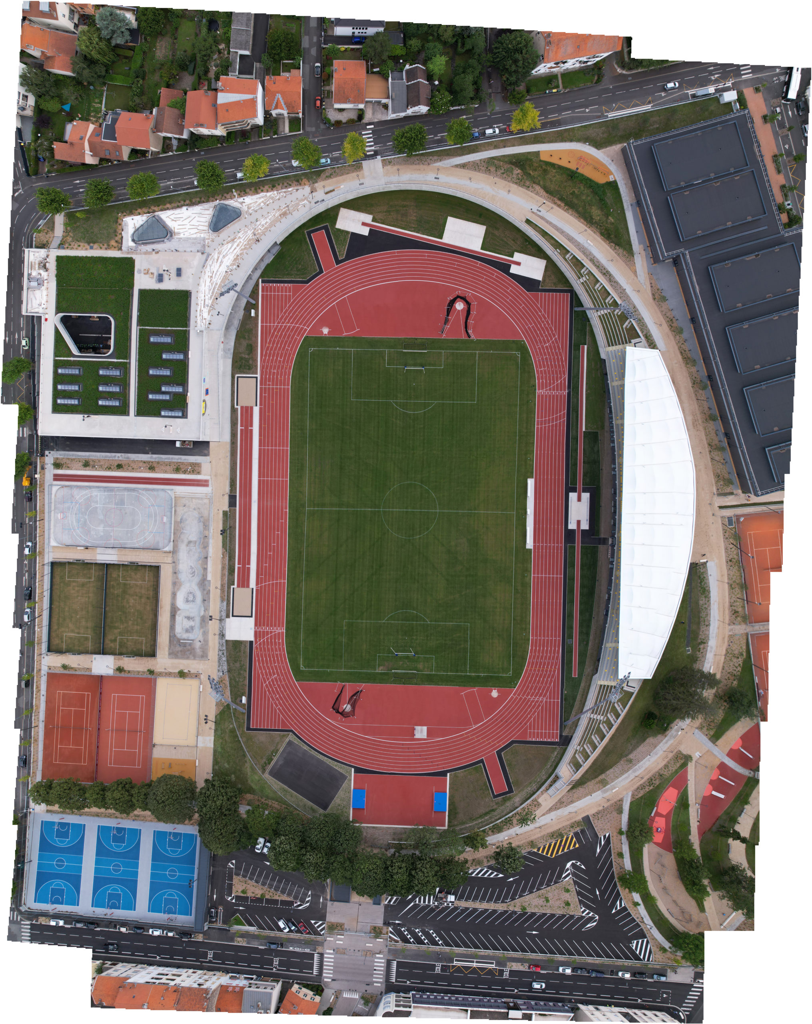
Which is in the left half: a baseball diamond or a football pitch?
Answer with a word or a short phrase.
football pitch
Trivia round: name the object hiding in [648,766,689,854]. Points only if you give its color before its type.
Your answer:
red playground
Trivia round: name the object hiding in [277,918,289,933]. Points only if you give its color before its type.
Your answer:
white vehicle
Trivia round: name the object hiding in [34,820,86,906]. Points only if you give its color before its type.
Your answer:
blue basketball court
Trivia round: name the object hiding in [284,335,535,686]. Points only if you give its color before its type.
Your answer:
green soccer field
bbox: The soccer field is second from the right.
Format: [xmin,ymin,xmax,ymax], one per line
[102,563,161,658]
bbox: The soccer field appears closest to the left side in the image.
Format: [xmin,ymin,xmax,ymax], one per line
[47,561,106,655]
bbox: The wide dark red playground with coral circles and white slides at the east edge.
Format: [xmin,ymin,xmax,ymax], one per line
[698,718,762,841]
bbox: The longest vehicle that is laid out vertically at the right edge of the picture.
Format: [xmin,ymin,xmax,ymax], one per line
[783,65,800,107]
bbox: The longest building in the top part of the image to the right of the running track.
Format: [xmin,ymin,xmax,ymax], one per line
[621,108,803,497]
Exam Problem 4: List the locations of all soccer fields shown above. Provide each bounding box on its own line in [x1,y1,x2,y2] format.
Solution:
[47,561,106,655]
[284,335,535,686]
[102,563,161,658]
